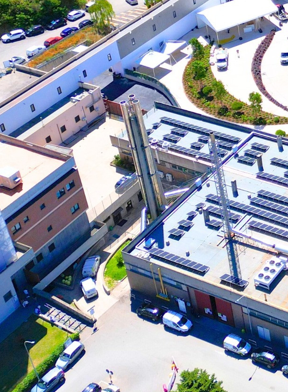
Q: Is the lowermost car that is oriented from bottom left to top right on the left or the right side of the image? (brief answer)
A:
left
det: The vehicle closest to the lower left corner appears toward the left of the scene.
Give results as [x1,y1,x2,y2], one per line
[32,366,67,392]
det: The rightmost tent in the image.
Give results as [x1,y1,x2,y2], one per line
[197,0,279,45]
